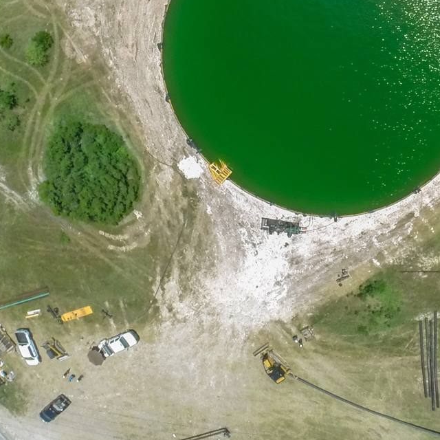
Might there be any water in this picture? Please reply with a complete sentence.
Yes, water can be seen from above here.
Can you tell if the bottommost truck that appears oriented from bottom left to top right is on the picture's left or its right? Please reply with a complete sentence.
The bottommost truck that appears oriented from bottom left to top right sits on the left side.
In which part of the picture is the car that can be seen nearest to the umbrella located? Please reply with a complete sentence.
The car that can be seen nearest to the umbrella appears toward the bottom left of the photo.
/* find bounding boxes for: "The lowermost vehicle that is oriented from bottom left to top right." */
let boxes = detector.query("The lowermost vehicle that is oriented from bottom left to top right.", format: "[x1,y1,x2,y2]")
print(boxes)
[39,390,74,424]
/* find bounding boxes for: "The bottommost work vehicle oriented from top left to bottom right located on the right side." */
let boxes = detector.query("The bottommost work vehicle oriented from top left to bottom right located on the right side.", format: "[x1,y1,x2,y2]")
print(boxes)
[256,347,293,377]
